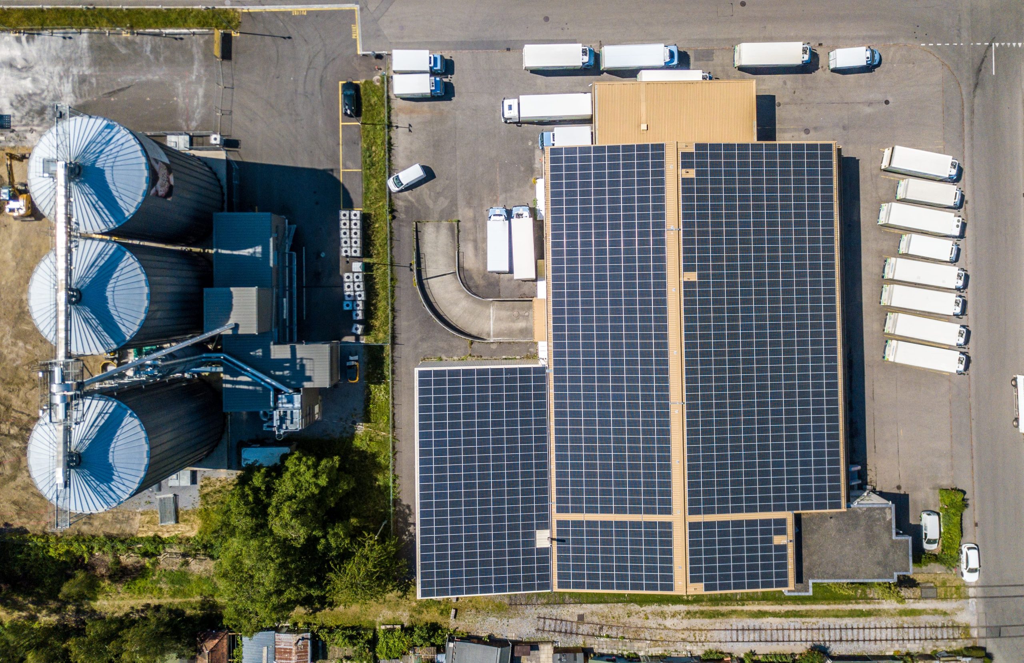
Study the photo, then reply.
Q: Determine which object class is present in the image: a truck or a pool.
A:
truck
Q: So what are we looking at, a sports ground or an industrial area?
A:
industrial area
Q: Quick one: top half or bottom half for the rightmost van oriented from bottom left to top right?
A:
top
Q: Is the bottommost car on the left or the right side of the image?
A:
right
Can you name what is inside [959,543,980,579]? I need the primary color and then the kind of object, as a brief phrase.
white car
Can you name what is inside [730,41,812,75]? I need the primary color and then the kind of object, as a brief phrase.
white truck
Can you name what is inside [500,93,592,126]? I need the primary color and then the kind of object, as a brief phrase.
white truck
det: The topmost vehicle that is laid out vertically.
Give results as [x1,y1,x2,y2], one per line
[340,81,358,120]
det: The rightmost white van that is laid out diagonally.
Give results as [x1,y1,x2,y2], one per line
[388,160,426,194]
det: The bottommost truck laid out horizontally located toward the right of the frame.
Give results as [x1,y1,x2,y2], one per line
[878,339,970,377]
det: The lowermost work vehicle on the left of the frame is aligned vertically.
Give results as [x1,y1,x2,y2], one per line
[346,354,359,382]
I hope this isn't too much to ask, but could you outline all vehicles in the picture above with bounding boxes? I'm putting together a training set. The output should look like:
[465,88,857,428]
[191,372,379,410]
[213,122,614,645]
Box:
[875,285,966,320]
[874,145,962,185]
[878,312,971,350]
[520,43,594,76]
[537,126,591,154]
[340,81,358,120]
[484,207,511,272]
[388,160,426,194]
[890,178,964,212]
[878,339,970,377]
[917,509,941,547]
[730,41,812,75]
[392,73,447,101]
[959,543,980,579]
[892,234,960,267]
[392,49,446,78]
[500,93,592,126]
[877,258,968,294]
[1010,375,1024,432]
[346,354,359,382]
[634,70,713,80]
[871,202,966,242]
[597,43,679,77]
[507,205,535,280]
[827,44,883,74]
